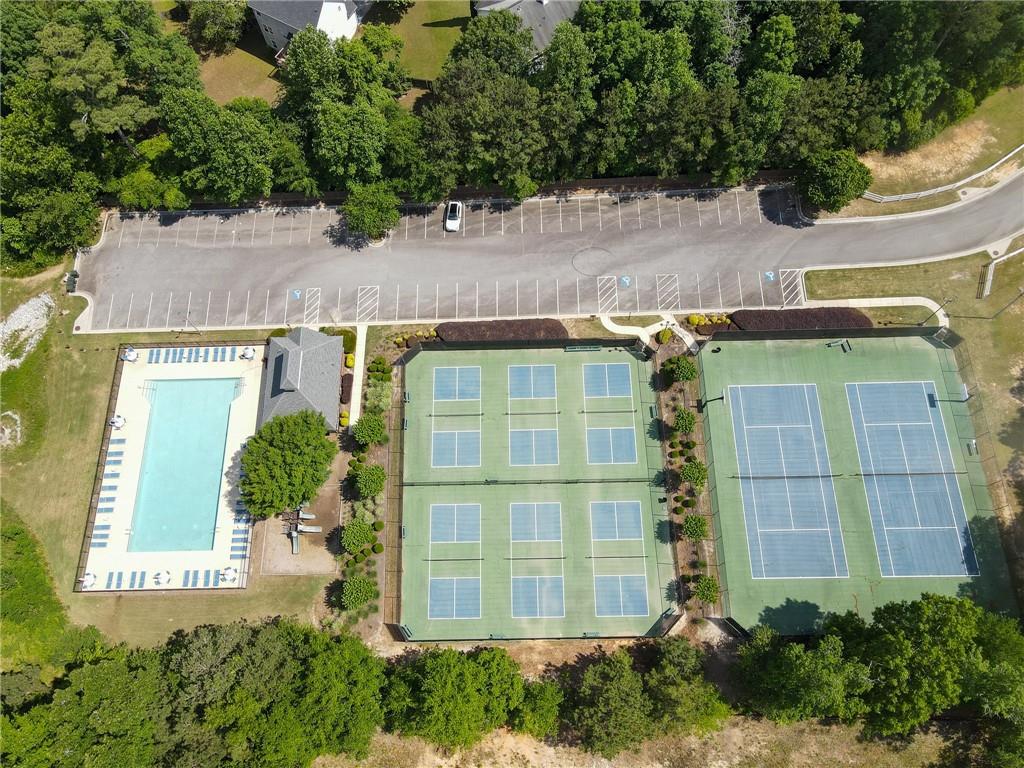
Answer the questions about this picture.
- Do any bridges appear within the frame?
No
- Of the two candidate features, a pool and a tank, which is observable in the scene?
pool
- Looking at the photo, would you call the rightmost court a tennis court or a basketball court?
tennis court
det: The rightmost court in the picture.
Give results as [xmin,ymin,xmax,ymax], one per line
[846,382,980,577]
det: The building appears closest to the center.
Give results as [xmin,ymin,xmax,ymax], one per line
[260,327,345,434]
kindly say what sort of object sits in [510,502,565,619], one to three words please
sports court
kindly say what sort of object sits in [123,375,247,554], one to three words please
swimming pool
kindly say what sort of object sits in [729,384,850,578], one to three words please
tennis court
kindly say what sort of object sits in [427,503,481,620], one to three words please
sports court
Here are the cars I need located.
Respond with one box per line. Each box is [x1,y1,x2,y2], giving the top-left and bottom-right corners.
[445,203,462,233]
